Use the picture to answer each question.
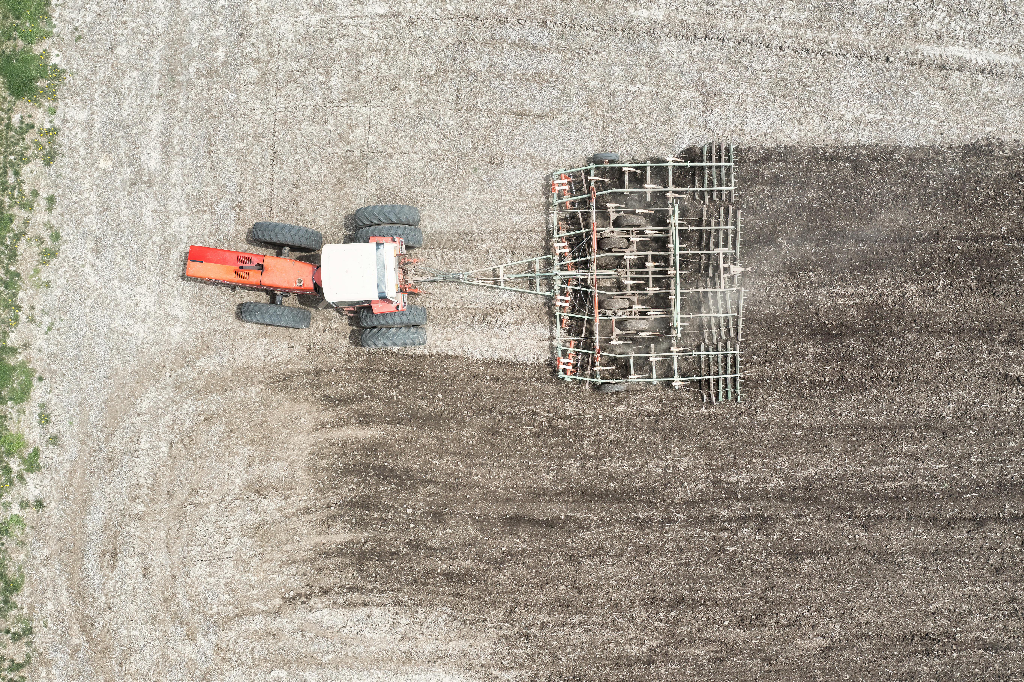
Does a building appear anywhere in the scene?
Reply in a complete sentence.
No, I can see no building in this picture.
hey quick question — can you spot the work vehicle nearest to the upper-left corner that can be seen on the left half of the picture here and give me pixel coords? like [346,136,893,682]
[187,205,429,349]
